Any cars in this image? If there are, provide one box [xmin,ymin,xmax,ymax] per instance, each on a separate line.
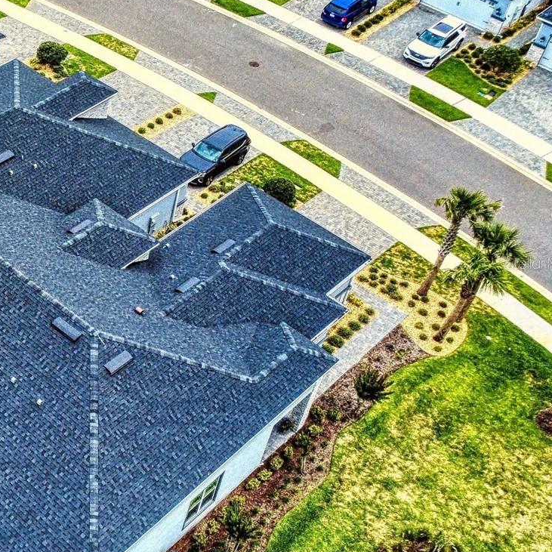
[320,0,379,25]
[406,12,471,65]
[182,123,256,186]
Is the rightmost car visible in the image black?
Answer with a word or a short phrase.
No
